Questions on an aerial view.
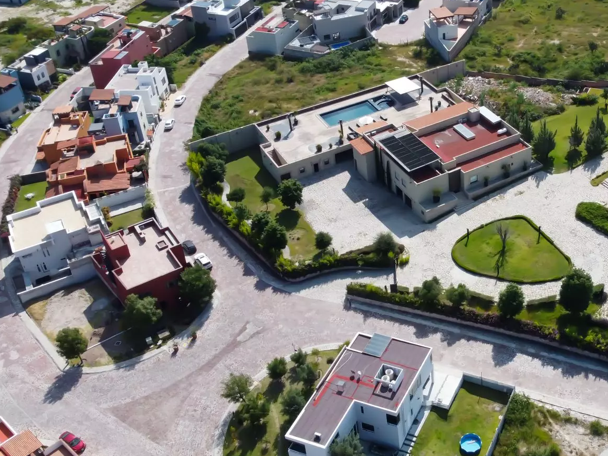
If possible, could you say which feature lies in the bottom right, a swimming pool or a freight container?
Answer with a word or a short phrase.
swimming pool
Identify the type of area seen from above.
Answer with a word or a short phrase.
residential area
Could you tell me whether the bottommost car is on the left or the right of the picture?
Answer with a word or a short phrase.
left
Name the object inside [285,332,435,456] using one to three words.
house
